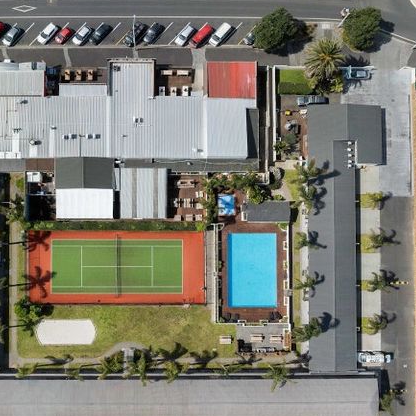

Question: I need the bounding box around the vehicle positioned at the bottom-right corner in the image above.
[358,353,393,367]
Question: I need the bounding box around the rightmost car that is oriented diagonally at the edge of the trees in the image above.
[241,28,258,48]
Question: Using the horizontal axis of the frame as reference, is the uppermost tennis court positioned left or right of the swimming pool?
to the left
